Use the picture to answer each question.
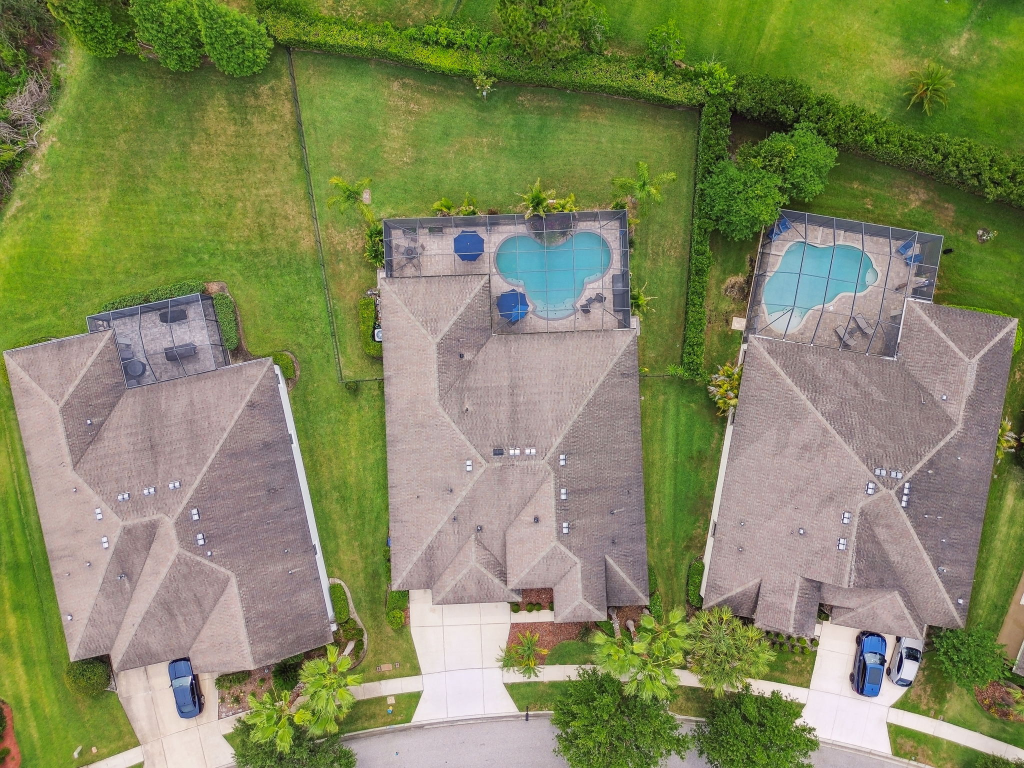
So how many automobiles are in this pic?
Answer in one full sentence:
The photo contains 3 automobiles.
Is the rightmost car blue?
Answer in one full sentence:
No, from above the rightmost car looks white.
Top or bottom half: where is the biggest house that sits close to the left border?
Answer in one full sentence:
You can find the biggest house that sits close to the left border in the bottom half.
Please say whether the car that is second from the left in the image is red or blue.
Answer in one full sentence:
From above, the car that is second from the left appears blue.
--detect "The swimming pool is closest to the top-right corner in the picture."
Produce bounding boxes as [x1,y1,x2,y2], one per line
[761,237,883,335]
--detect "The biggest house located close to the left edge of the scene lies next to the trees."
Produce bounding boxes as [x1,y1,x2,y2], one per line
[4,327,337,673]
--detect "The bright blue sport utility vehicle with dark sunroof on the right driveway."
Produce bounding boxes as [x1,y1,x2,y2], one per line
[848,628,889,697]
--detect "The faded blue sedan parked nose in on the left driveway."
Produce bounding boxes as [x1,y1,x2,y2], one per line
[168,657,209,721]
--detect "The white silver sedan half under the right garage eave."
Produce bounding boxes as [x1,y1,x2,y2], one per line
[889,625,931,688]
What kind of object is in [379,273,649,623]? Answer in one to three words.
house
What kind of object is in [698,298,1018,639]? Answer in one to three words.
house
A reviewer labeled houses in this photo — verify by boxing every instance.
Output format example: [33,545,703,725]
[992,578,1024,675]
[4,327,337,673]
[698,298,1018,639]
[379,273,649,623]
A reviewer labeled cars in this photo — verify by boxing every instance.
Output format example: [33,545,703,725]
[848,628,889,697]
[168,657,209,721]
[889,625,931,688]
